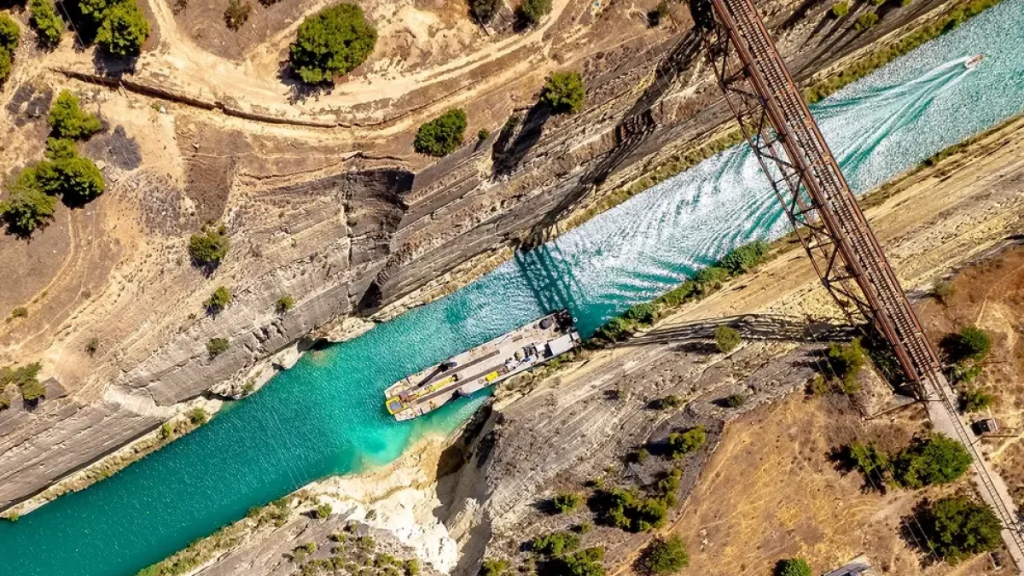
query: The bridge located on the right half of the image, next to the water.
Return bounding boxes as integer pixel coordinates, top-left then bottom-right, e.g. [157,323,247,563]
[683,0,946,400]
